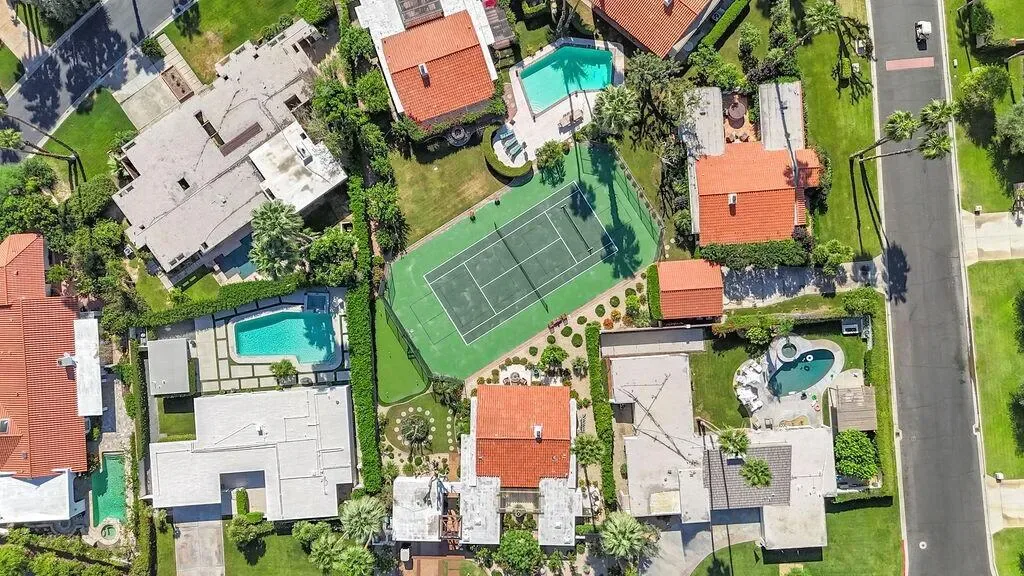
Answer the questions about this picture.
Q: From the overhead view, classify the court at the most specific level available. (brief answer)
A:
tennis court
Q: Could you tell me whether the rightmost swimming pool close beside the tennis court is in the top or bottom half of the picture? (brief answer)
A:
top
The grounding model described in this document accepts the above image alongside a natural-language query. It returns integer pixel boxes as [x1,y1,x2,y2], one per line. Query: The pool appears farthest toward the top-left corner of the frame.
[215,236,261,279]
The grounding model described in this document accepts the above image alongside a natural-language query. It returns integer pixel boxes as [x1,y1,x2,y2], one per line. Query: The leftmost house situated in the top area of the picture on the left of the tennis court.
[111,19,348,272]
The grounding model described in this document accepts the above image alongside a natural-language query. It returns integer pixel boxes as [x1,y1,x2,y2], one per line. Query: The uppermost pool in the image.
[519,43,615,115]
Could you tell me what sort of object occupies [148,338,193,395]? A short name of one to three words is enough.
building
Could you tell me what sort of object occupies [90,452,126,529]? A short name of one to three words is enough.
swimming pool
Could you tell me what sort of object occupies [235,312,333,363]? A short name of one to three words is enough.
swimming pool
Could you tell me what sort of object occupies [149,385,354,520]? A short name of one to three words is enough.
house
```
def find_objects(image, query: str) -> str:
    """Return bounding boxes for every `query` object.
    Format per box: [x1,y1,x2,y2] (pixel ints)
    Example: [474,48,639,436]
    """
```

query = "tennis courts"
[384,139,663,381]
